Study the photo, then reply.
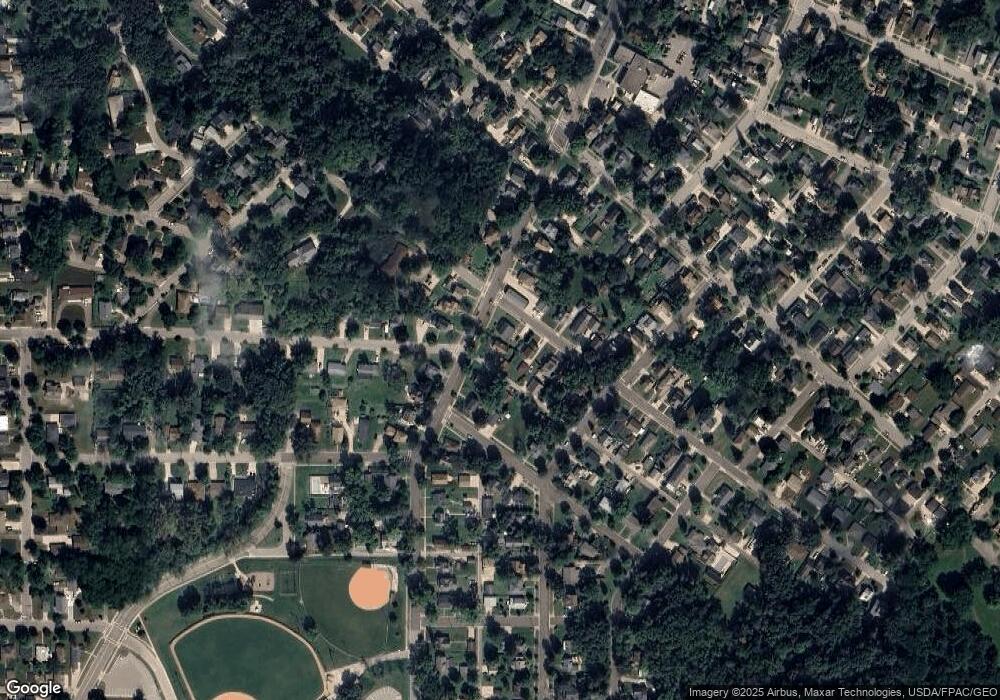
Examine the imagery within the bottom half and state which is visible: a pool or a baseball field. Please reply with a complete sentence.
You can see a baseball field within the bottom half.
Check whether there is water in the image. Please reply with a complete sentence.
No, water can't be seen anywhere here.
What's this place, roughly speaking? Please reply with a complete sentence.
The area seen from above is a residential area.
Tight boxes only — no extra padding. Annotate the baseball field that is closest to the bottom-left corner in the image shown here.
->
[171,613,329,700]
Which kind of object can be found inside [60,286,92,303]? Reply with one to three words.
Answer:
house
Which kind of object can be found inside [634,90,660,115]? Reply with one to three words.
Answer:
building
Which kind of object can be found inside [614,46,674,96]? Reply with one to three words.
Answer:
building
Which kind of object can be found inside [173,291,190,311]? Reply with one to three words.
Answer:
house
